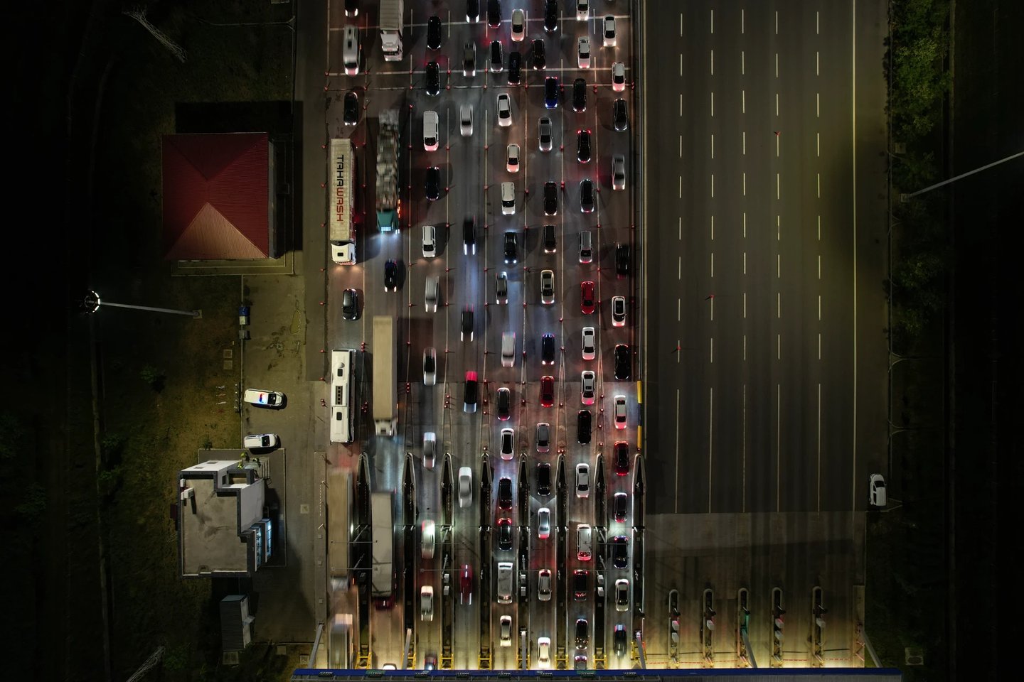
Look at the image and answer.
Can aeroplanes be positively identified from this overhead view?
No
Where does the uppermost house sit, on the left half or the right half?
left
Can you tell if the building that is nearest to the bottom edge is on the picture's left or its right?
left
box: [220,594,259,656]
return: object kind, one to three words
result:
building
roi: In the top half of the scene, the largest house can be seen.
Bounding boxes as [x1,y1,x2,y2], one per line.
[161,132,275,260]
